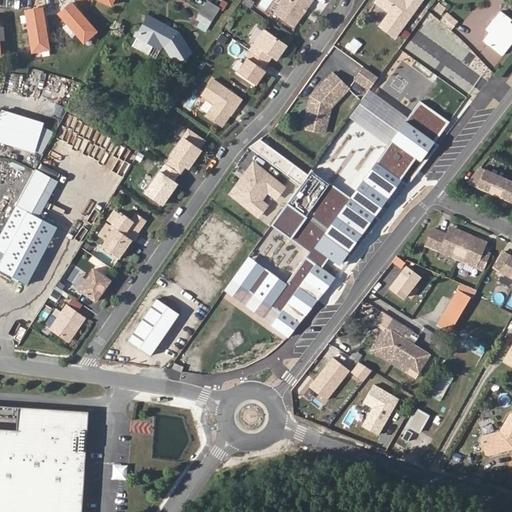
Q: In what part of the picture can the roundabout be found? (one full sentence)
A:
The roundabout is located in the bottom region of the scene.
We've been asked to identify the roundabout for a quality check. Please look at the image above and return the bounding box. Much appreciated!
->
[216,382,288,452]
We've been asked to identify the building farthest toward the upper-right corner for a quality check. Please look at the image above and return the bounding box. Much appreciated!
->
[483,10,512,56]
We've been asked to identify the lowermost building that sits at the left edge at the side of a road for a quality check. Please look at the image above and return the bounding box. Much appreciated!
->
[0,407,88,512]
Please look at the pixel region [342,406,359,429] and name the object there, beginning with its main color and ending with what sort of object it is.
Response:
white swimming pool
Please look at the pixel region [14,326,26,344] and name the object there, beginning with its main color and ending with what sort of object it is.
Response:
white vehicle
